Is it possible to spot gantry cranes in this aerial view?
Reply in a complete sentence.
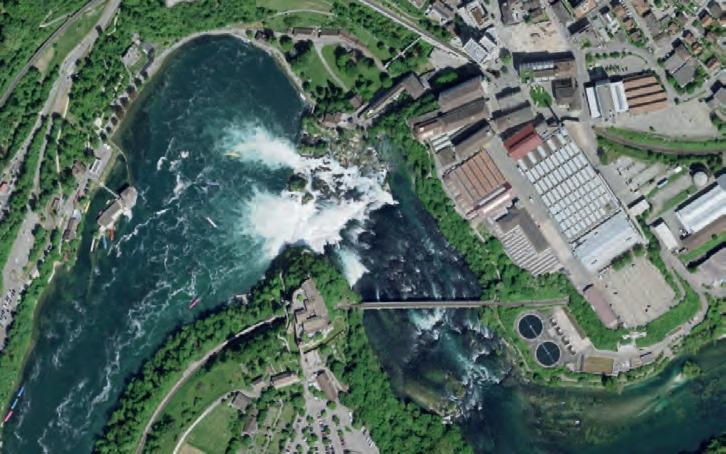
No, I find no gantry crane anywhere in the image.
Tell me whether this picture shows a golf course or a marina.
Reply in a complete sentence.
The picture captures a marina.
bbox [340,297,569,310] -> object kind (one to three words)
bridge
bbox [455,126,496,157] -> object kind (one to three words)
building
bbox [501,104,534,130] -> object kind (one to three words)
building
